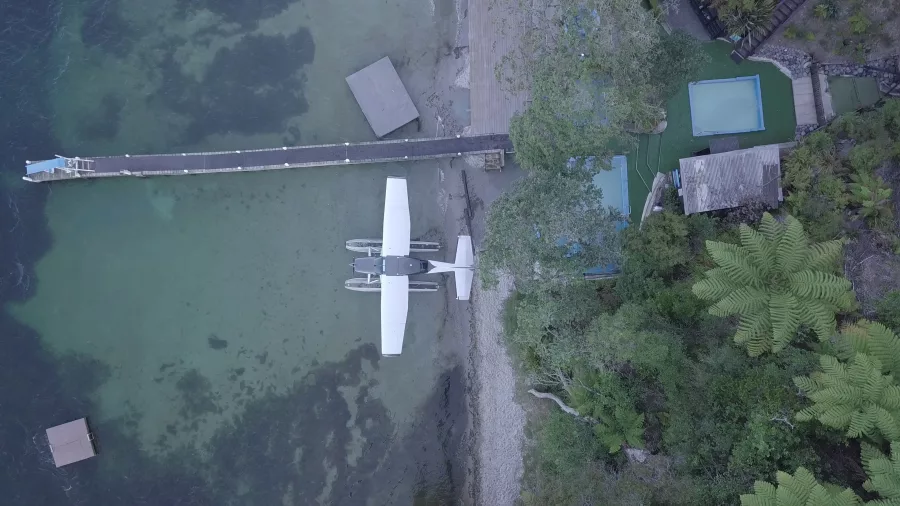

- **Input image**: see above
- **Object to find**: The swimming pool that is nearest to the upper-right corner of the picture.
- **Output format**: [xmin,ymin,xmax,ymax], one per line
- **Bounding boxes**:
[687,76,766,138]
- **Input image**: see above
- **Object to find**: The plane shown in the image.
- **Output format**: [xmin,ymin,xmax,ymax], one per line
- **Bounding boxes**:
[345,177,475,356]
